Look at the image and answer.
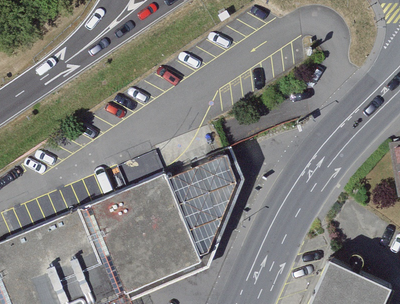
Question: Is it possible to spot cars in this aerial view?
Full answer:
Yes, I can see a car in this picture.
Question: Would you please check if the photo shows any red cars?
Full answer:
Yes, there's a red car here.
